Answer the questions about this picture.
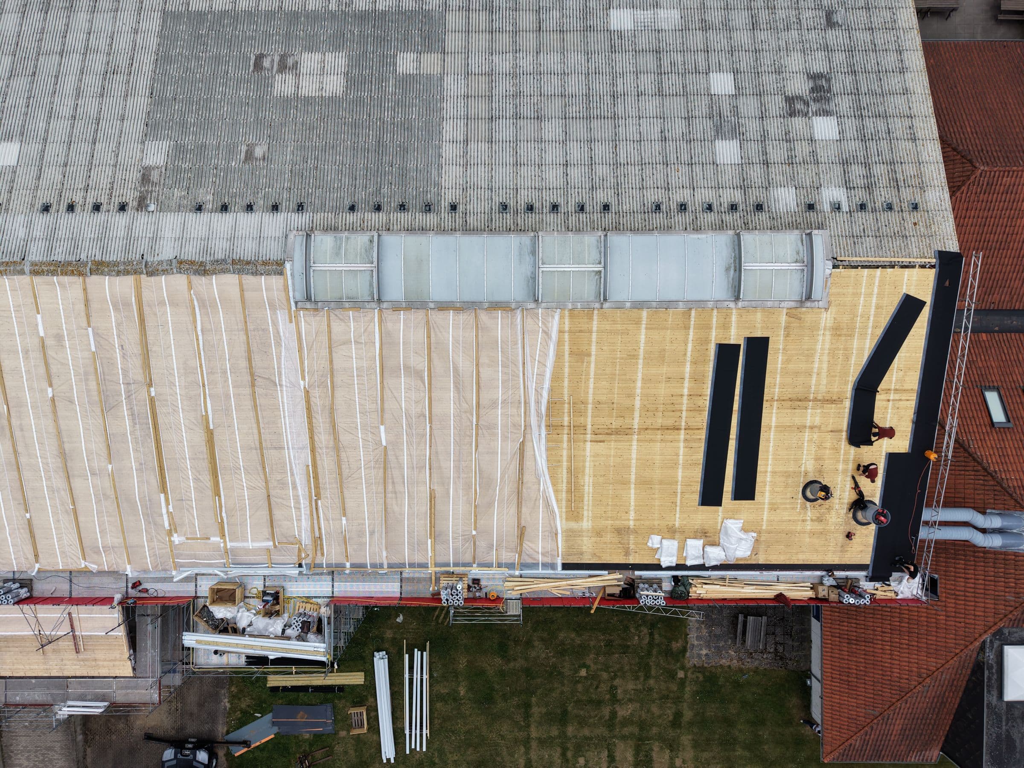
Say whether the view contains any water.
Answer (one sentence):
No, water can't be seen anywhere here.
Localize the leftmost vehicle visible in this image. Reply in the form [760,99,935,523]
[140,730,254,768]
